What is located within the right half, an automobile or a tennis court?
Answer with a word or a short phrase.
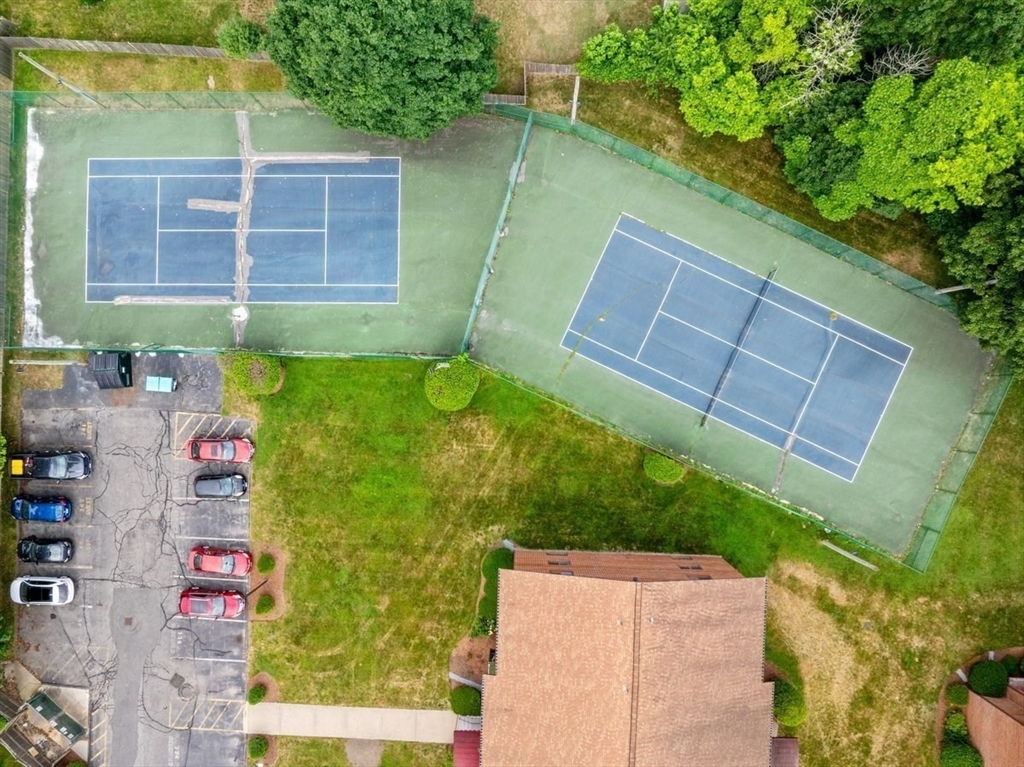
tennis court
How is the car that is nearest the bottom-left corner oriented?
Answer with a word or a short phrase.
from side to side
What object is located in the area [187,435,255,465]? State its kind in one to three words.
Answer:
car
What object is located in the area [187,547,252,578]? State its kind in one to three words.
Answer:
car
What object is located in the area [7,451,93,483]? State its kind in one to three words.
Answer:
truck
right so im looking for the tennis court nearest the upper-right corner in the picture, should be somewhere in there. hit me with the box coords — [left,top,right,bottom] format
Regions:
[468,124,991,555]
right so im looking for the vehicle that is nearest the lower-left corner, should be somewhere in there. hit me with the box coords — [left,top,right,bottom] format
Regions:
[11,576,77,608]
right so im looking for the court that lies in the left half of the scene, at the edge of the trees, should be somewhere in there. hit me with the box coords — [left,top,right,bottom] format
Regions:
[21,106,528,357]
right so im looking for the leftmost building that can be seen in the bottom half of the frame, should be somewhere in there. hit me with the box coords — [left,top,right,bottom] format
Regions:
[479,548,775,767]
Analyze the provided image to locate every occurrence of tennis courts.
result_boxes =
[21,106,528,357]
[468,124,991,555]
